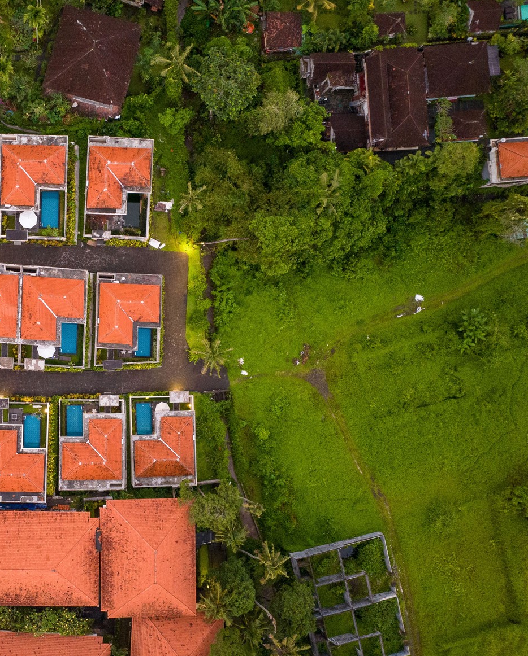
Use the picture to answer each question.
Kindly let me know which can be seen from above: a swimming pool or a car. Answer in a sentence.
The image shows a swimming pool.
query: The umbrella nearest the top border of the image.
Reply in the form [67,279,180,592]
[19,211,37,229]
